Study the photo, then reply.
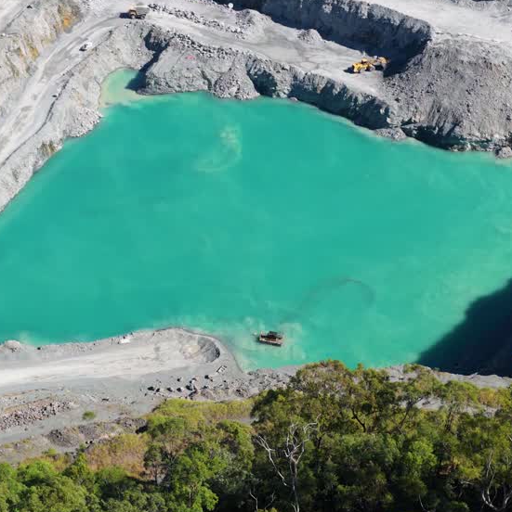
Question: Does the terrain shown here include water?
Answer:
Yes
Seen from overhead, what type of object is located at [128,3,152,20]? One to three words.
vehicle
